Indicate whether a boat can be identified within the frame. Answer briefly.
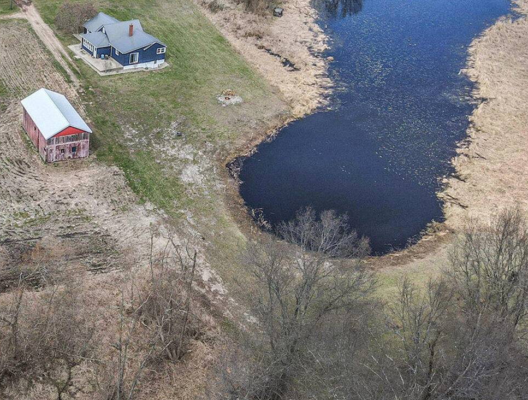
No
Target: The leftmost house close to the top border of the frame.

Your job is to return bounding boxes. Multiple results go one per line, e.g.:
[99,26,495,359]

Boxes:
[62,12,172,77]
